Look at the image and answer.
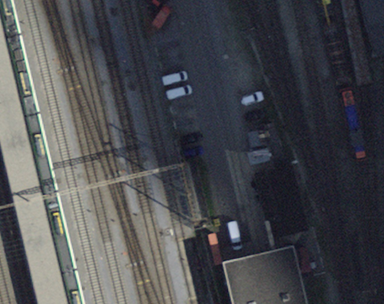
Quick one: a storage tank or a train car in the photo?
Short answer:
train car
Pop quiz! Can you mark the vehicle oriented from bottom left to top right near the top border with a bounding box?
[152,6,170,30]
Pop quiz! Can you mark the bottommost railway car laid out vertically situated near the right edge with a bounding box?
[340,88,366,164]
